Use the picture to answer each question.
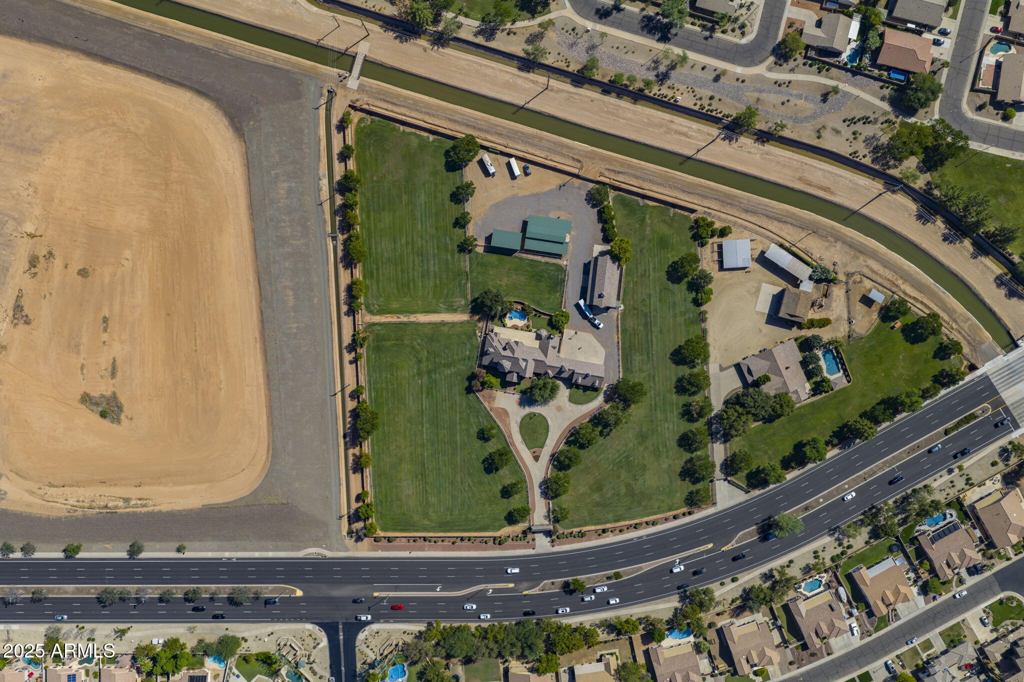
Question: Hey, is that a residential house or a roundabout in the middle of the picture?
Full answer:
Visible in the middle of the picture is a residential house.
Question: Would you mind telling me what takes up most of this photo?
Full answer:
What you mostly see from above here is paved ground.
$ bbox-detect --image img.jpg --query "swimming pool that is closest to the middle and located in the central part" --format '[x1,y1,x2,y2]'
[507,309,527,322]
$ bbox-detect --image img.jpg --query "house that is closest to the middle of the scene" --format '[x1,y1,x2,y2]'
[481,329,605,386]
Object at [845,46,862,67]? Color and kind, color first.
blue swimming pool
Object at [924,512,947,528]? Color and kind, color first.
blue swimming pool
